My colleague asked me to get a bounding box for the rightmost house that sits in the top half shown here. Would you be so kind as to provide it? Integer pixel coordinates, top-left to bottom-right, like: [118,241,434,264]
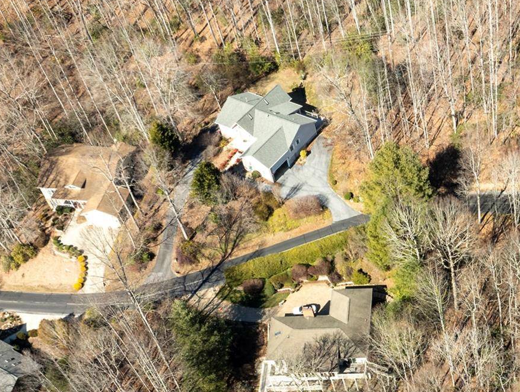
[215,85,334,180]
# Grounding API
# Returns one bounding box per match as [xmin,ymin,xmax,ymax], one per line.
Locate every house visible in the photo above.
[215,85,334,180]
[0,341,42,392]
[37,137,134,229]
[258,288,384,392]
